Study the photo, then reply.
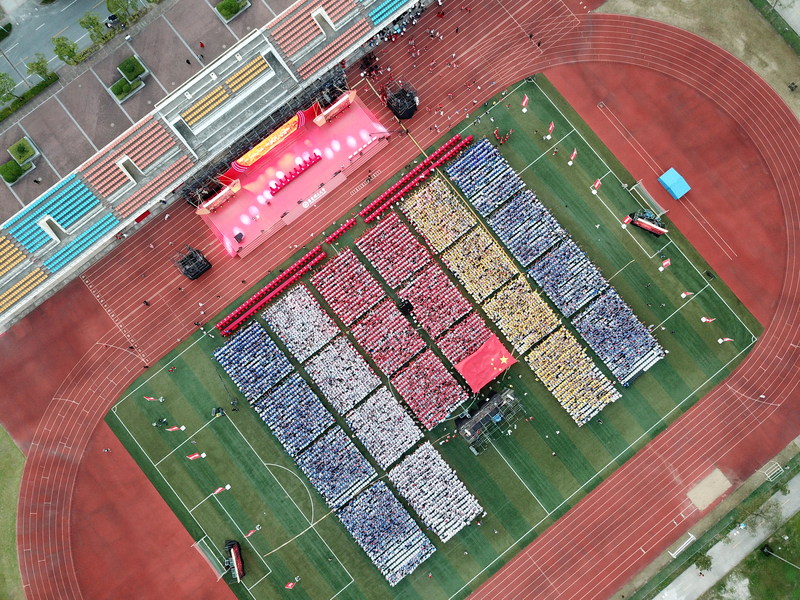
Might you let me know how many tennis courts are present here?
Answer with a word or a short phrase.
0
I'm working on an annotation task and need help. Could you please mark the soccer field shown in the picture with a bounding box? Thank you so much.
[103,72,765,600]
